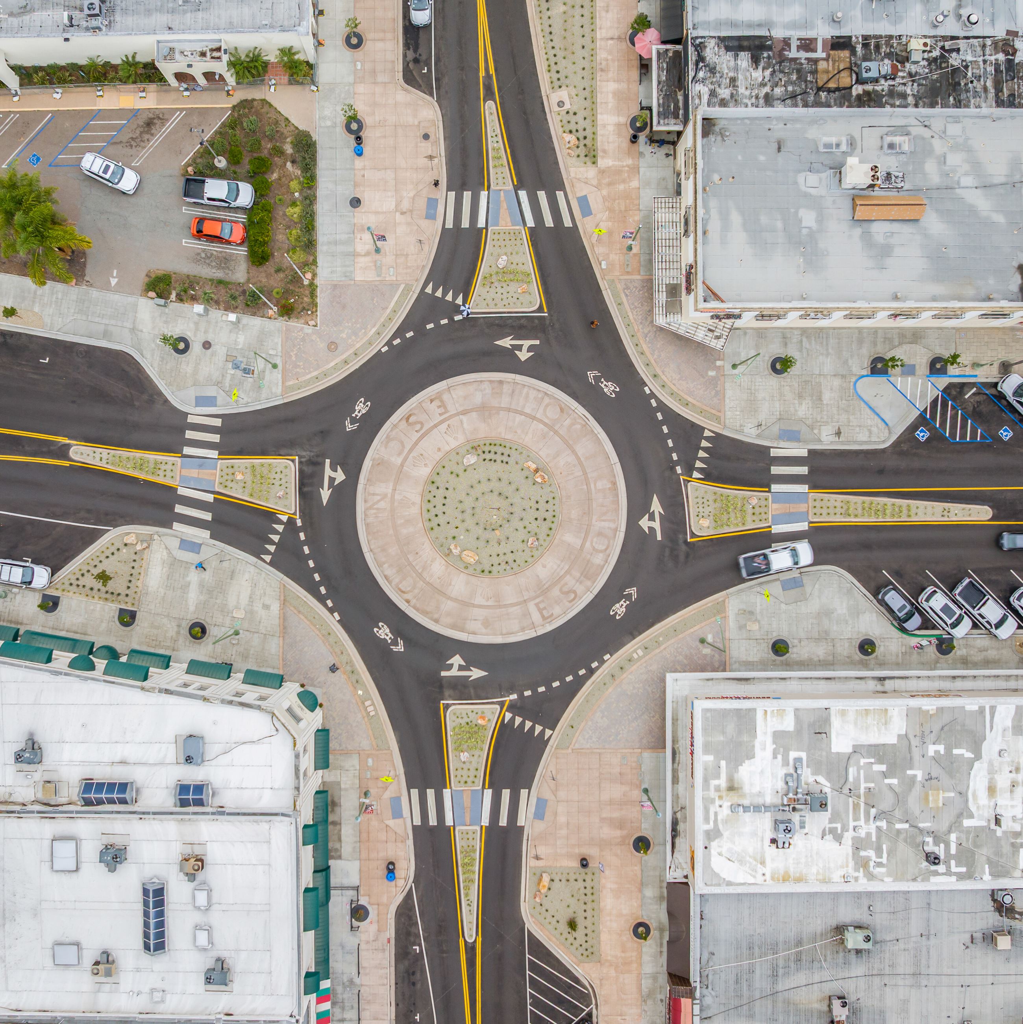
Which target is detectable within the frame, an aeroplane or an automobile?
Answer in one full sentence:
This aerial view contains an automobile.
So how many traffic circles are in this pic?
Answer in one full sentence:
The photo contains exactly 1 traffic circle.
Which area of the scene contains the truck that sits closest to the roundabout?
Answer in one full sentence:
The truck that sits closest to the roundabout appears toward the right of the photo.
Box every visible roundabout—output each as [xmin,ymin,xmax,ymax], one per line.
[296,315,682,703]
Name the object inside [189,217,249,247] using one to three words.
car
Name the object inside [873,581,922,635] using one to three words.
car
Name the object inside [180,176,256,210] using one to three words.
truck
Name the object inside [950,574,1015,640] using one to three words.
truck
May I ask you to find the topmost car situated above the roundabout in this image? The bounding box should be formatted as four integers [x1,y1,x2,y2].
[406,0,435,30]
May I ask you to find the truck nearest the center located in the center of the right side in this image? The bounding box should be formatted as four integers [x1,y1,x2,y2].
[733,541,815,582]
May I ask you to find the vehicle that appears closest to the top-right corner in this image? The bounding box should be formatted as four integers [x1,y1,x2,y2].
[998,376,1023,424]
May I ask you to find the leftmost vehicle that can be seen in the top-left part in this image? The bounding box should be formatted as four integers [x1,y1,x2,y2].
[77,148,142,197]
